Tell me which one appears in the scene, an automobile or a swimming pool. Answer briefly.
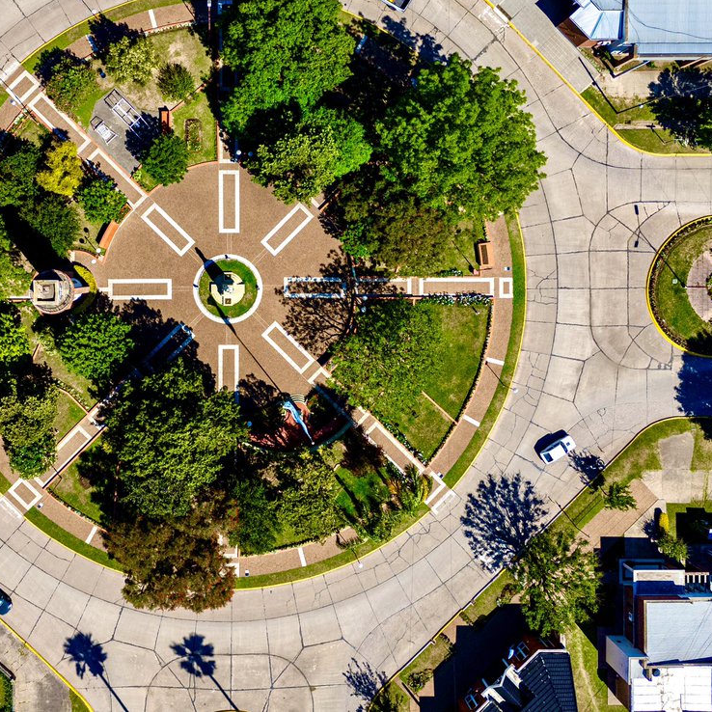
automobile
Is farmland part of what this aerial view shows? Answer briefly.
No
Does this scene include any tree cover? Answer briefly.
Yes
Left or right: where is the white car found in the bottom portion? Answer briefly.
right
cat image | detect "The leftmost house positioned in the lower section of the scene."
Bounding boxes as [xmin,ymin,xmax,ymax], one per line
[449,635,576,712]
